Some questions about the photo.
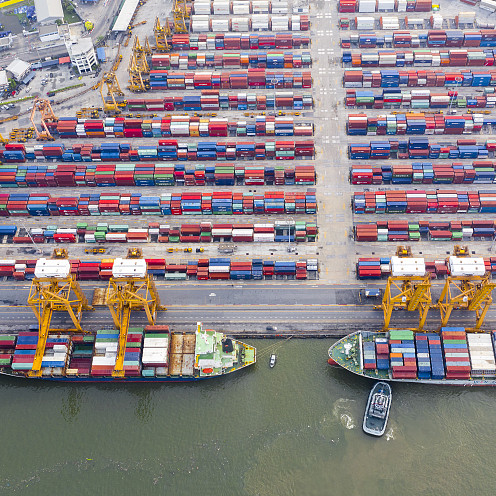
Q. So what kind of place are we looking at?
port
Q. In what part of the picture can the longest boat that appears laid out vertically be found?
bottom right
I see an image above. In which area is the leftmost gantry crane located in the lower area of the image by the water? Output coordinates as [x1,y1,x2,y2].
[26,247,103,379]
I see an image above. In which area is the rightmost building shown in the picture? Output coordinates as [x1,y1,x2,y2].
[113,0,146,39]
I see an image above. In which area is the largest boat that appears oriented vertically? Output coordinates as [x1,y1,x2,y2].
[365,381,391,437]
